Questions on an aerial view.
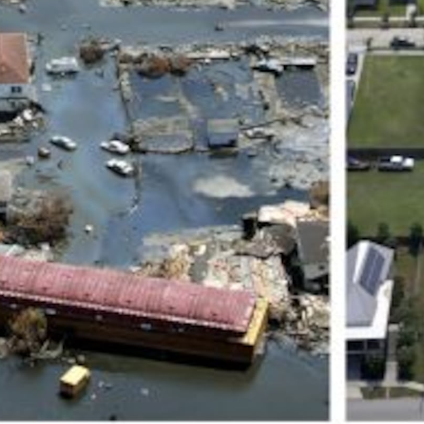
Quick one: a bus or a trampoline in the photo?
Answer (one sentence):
It is a bus that can be seen here.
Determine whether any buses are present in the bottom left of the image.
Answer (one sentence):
Yes, a bus shows up in the bottom left of the image.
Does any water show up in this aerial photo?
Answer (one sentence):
Yes, there's water in this view.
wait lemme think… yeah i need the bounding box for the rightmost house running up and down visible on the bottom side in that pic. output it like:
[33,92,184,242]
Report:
[347,241,395,394]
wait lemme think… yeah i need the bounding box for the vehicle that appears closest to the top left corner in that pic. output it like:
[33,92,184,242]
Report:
[48,58,77,70]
